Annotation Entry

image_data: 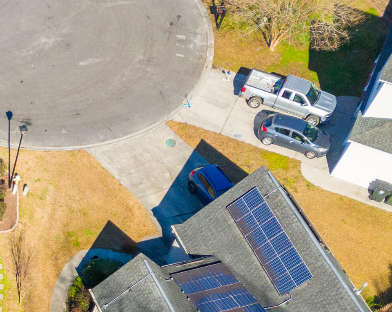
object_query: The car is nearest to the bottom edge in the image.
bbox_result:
[186,157,239,202]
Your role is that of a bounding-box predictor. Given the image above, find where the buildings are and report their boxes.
[330,54,392,188]
[88,163,374,312]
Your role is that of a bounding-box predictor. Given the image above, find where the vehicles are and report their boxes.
[235,62,348,124]
[186,157,239,202]
[257,106,337,159]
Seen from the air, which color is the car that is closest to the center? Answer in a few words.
blue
